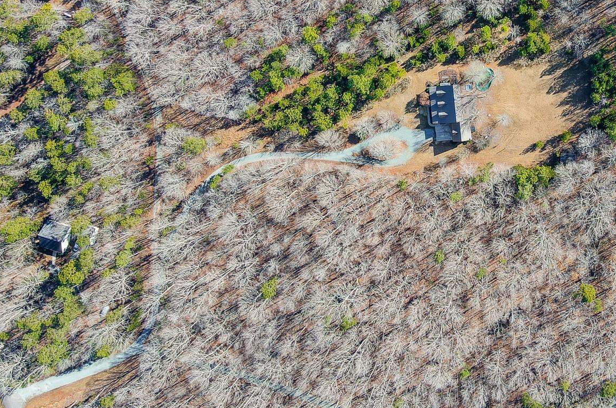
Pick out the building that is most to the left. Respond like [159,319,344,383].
[38,218,77,254]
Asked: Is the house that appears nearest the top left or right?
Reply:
right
